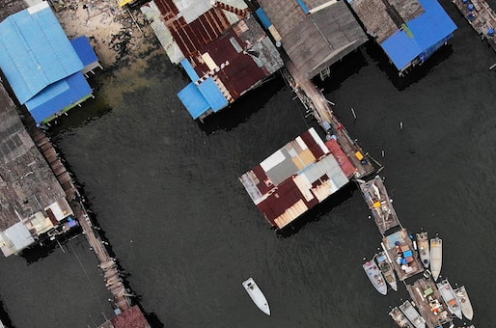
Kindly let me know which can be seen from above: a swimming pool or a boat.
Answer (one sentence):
There is a boat in the scene.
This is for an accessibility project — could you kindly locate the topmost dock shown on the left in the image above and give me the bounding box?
[31,129,142,312]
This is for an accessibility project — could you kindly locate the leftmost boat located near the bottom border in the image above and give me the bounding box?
[242,278,268,316]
